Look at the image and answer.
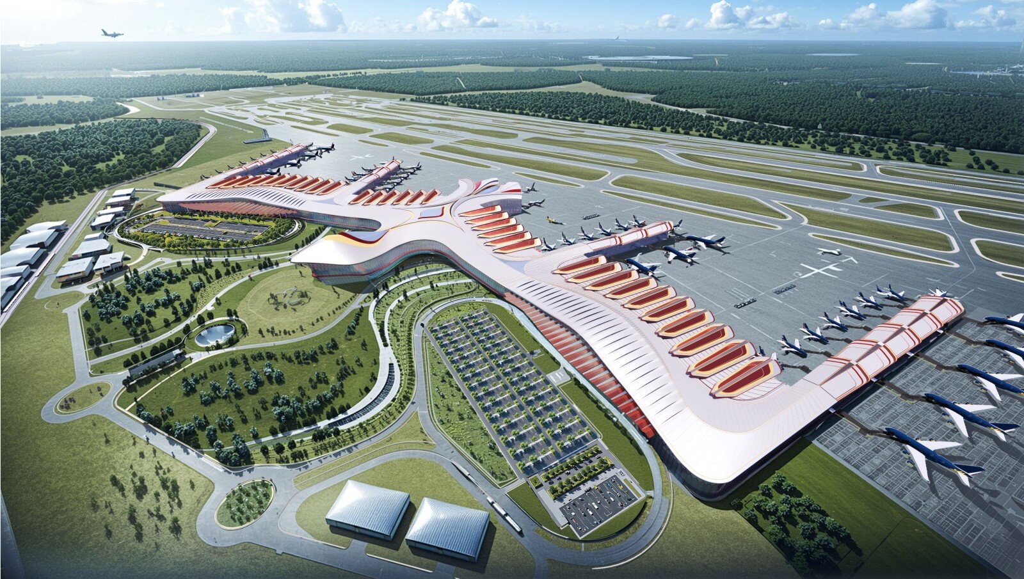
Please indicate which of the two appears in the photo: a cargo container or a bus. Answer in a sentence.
It is a bus that can be seen here.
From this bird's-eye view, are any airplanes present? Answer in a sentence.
Yes, an airplane appears in the view.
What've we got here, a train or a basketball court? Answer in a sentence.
It is a train that can be seen here.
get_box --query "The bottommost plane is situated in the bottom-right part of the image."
[886,427,985,482]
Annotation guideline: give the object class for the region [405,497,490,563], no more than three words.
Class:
hangar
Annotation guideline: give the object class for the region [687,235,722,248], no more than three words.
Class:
airplane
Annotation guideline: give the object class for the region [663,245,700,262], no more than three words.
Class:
airplane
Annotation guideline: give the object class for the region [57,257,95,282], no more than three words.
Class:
building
